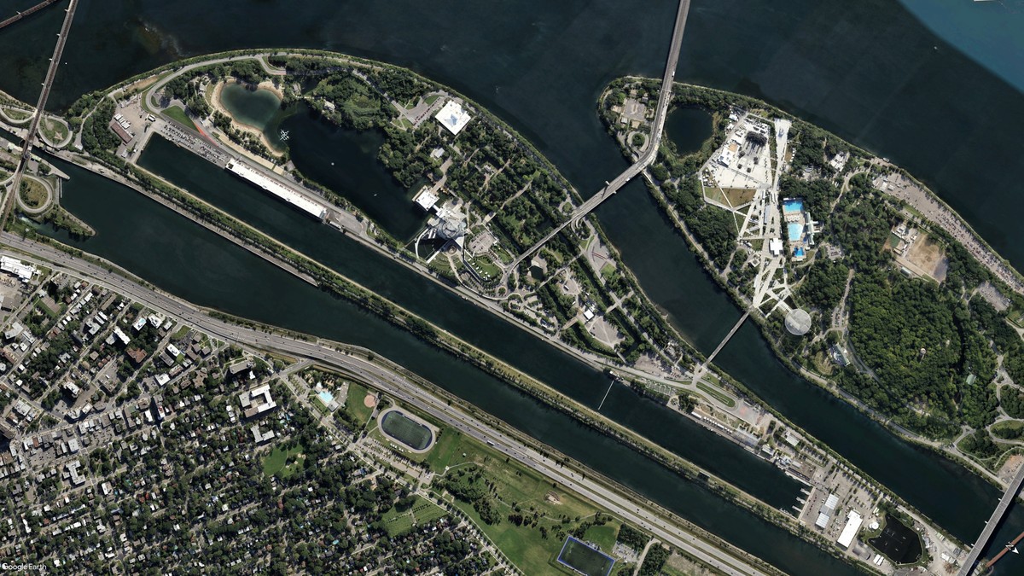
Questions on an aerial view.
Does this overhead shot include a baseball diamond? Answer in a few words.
Yes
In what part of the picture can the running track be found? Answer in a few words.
bottom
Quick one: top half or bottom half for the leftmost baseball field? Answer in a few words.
bottom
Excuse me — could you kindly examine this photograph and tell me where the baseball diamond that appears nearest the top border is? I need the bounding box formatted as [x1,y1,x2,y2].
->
[347,382,378,421]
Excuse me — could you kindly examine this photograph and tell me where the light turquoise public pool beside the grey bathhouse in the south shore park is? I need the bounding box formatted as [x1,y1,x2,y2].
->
[317,389,334,405]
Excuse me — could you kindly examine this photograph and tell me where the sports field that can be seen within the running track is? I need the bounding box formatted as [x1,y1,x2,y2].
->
[383,410,430,449]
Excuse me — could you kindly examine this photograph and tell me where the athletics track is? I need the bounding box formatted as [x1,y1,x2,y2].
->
[377,405,447,455]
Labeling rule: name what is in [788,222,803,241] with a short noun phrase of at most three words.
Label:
swimming pool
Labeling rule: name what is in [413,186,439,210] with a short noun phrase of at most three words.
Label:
building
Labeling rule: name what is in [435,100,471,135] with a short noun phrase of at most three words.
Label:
building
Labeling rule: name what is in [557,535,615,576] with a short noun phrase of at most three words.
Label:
sports field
